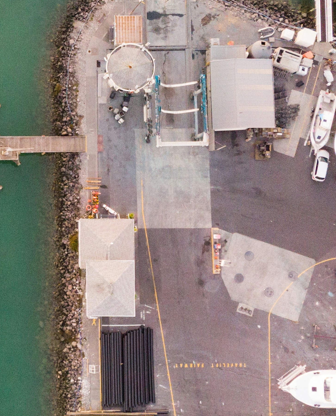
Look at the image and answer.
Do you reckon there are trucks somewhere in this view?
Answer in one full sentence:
Yes, there is a truck in the image.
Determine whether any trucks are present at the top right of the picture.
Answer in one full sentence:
Yes, looking at the top right of the picture, one can make out a truck.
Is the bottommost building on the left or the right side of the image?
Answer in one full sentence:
It is on the left.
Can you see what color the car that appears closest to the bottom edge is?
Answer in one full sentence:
In this view, the car that appears closest to the bottom edge is white.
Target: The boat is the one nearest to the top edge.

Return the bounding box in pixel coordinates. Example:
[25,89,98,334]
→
[259,26,276,38]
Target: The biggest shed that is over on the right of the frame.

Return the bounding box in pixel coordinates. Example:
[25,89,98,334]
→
[174,59,275,132]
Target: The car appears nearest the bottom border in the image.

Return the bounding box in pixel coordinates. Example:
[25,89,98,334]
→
[309,150,331,183]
